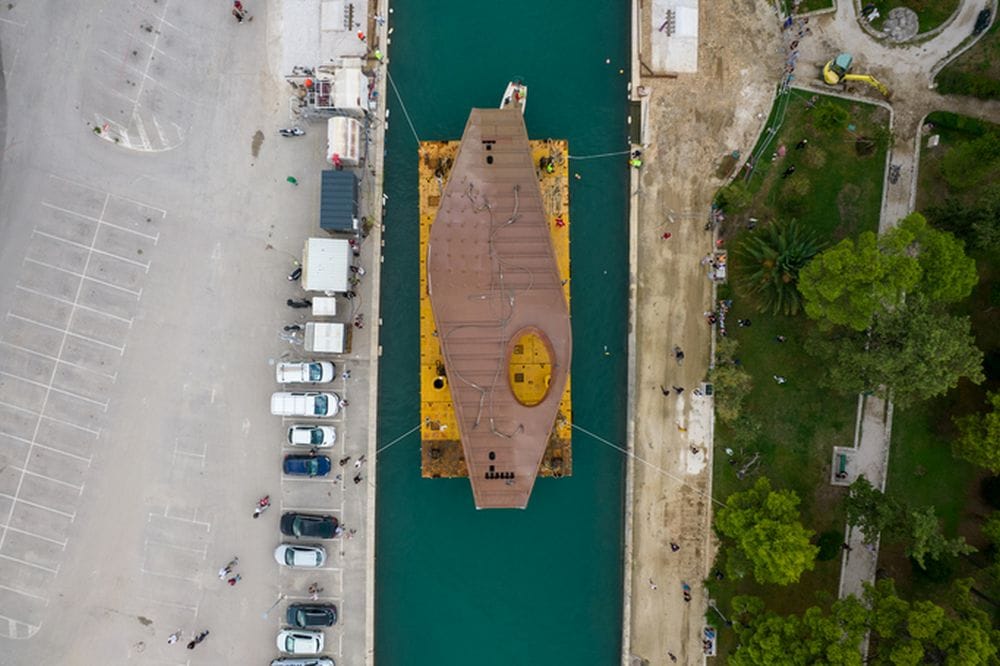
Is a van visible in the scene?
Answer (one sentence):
Yes, there's a van down there.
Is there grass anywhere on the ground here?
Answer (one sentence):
Yes, there's grass in this view.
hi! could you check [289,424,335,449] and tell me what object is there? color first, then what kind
white car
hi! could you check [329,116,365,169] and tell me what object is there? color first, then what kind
white tent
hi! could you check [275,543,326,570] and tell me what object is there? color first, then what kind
white car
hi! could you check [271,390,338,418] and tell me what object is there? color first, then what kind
white van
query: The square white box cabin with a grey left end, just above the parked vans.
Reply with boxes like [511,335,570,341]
[305,323,356,353]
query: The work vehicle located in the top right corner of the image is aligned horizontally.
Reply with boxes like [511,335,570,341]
[811,53,894,104]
